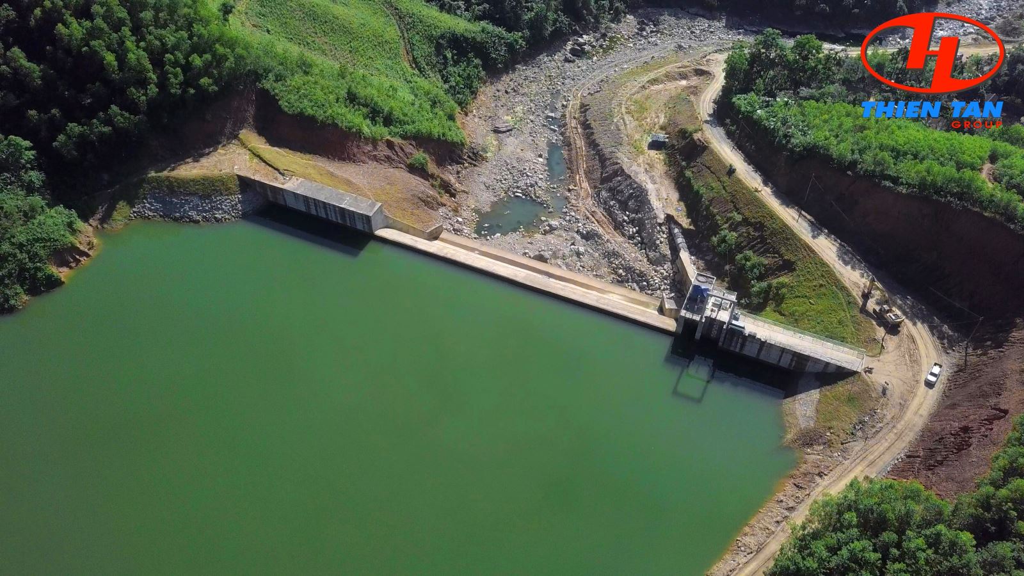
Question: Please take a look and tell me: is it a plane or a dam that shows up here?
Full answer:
Of the two, only a dam appears.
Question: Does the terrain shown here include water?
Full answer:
Yes, the picture does contain water.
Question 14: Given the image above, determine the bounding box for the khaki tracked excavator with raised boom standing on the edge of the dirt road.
[863,283,913,328]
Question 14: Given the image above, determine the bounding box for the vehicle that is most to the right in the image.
[925,359,946,384]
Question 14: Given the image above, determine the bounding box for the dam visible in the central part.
[373,225,680,335]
